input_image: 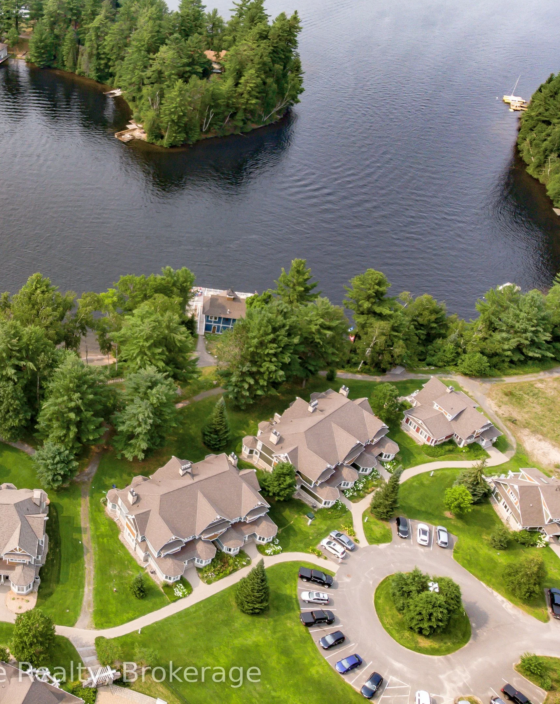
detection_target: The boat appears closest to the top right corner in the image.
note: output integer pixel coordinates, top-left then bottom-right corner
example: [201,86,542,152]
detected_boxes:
[502,77,528,104]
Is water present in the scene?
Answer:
Yes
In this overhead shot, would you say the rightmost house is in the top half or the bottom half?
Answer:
bottom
